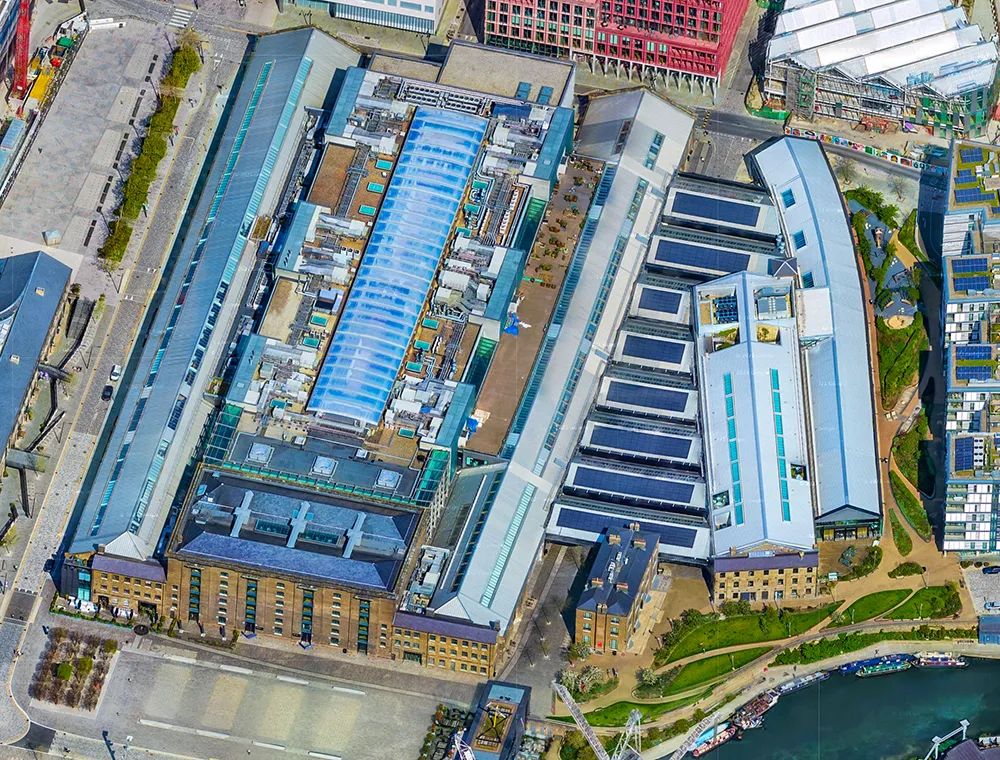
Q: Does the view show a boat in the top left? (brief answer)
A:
No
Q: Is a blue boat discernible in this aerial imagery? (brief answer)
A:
Yes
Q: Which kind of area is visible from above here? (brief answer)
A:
industrial area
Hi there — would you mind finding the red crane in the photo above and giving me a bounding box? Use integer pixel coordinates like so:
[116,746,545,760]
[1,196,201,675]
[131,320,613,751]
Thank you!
[8,0,31,104]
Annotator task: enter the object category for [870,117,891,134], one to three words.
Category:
work vehicle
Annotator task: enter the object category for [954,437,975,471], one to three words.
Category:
solar panel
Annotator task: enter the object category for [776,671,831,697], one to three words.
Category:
boat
